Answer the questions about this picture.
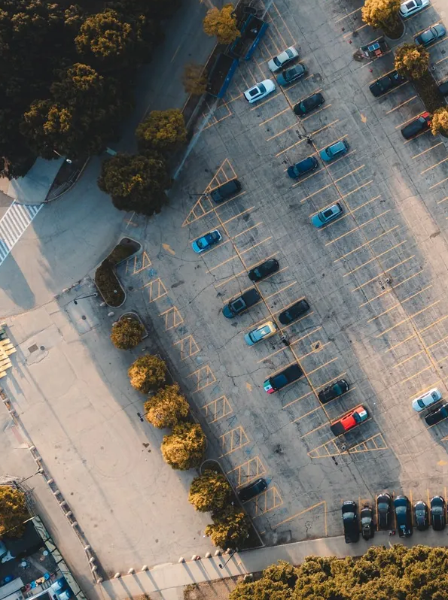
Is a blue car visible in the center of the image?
Yes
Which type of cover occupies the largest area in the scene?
paved ground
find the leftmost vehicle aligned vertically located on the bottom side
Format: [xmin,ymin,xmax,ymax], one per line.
[341,502,356,542]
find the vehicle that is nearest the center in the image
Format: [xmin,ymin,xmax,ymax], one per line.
[223,291,260,318]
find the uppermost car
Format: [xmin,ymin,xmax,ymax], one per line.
[400,0,429,16]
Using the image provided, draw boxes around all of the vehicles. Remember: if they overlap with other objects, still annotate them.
[360,508,374,539]
[412,387,442,411]
[320,138,350,161]
[268,47,299,69]
[400,113,434,139]
[413,22,446,46]
[236,478,268,502]
[223,291,260,318]
[209,178,242,202]
[276,62,307,86]
[248,259,280,281]
[265,364,301,392]
[192,229,222,253]
[312,204,342,226]
[414,500,428,529]
[436,80,448,96]
[429,496,444,529]
[243,80,275,102]
[278,299,312,324]
[424,402,448,426]
[246,321,276,345]
[295,93,323,115]
[287,155,317,178]
[317,379,348,402]
[341,502,356,542]
[394,498,409,536]
[369,68,406,96]
[400,0,429,16]
[376,494,392,527]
